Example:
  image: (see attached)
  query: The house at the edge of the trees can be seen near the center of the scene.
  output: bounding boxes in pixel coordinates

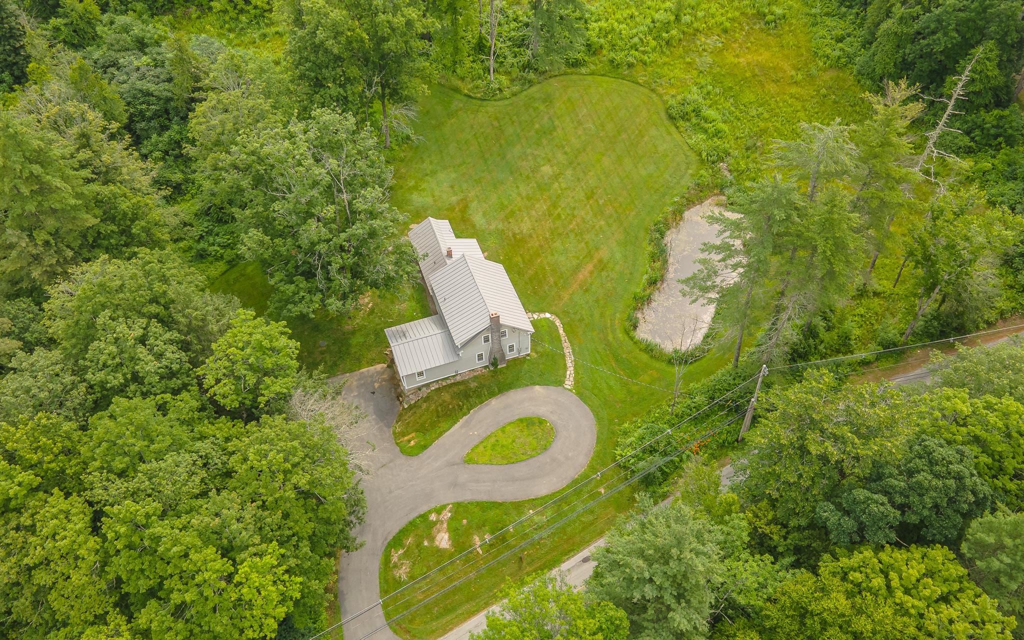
[382,216,534,394]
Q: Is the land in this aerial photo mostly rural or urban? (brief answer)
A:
rural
